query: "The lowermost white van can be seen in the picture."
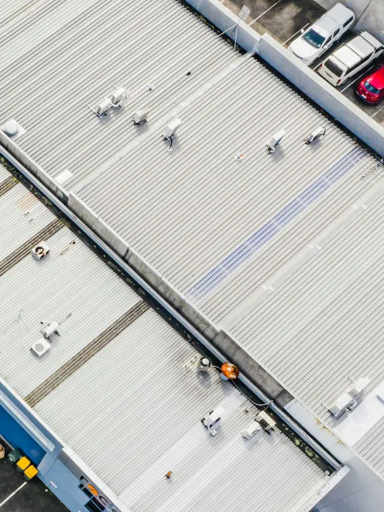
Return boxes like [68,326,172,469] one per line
[320,34,377,84]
